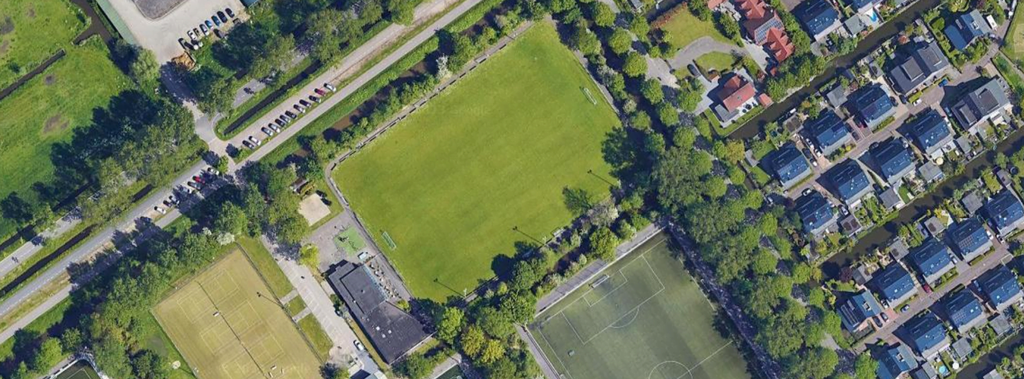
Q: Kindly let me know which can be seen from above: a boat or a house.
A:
house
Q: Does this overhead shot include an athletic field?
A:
Yes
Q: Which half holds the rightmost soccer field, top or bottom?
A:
bottom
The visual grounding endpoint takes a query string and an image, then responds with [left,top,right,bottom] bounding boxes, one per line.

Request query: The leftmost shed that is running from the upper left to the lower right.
[98,0,140,46]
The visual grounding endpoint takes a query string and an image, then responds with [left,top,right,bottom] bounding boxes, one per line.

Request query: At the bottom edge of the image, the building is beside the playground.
[329,262,434,365]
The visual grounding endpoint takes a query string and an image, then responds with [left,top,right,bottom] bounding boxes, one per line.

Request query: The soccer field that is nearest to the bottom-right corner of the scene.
[528,229,760,379]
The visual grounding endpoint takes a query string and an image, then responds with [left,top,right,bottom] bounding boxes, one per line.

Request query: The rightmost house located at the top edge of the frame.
[944,10,991,51]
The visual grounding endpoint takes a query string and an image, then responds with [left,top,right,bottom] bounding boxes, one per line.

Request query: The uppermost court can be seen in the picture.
[300,193,331,223]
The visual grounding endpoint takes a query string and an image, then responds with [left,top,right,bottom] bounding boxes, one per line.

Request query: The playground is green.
[334,226,366,257]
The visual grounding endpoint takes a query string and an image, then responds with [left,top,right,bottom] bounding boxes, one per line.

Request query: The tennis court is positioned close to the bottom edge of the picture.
[151,246,332,379]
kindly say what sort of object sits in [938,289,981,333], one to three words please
house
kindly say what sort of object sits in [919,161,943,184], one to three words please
shed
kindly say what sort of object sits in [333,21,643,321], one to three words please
sports field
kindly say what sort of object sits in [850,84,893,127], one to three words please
house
